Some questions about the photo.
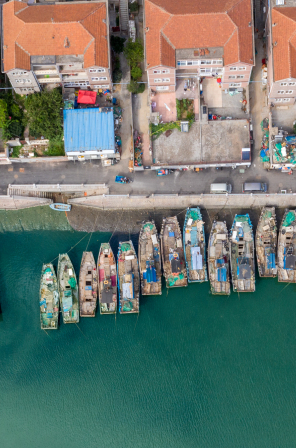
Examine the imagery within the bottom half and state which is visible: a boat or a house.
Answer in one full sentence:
What appears within the bottom half is a boat.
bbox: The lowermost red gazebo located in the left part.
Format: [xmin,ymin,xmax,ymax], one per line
[79,92,98,108]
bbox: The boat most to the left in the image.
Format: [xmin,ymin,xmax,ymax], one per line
[38,263,58,330]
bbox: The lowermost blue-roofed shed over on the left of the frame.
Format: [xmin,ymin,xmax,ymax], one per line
[64,107,114,157]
